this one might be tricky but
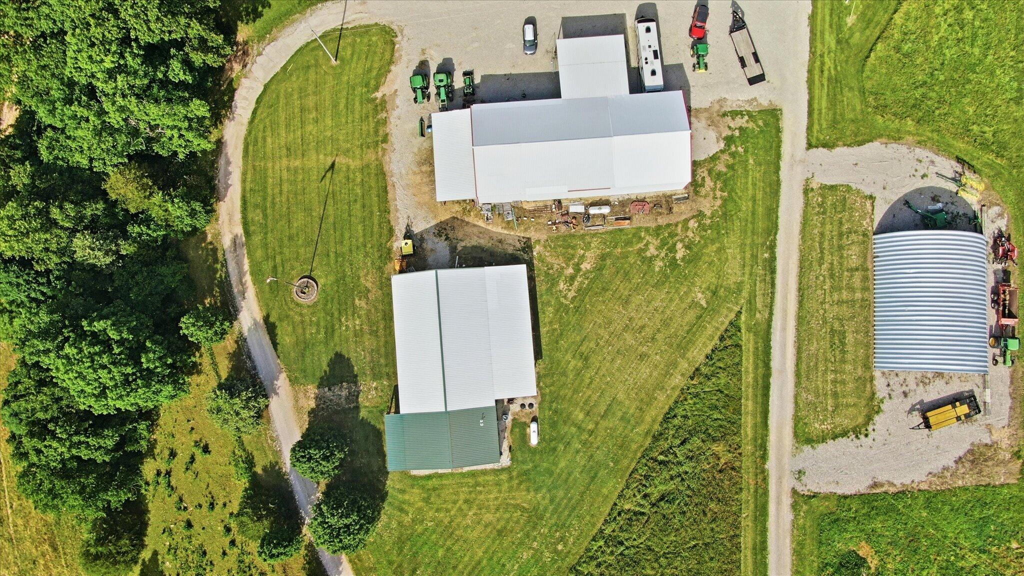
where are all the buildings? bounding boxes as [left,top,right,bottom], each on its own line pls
[871,230,990,373]
[384,263,536,472]
[431,34,694,206]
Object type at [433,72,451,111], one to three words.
work vehicle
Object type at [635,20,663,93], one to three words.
camper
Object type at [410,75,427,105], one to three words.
work vehicle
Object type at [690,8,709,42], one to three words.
car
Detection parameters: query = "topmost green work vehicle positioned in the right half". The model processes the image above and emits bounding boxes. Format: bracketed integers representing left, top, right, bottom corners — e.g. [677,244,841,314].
[691,45,708,74]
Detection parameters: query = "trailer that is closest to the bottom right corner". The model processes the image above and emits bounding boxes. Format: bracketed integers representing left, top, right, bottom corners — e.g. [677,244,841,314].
[908,396,981,431]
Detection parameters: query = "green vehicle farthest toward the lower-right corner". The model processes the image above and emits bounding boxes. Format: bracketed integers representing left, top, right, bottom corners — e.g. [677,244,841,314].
[991,338,1020,365]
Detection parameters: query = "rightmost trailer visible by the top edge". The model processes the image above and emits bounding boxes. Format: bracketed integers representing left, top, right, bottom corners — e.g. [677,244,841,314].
[730,8,765,85]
